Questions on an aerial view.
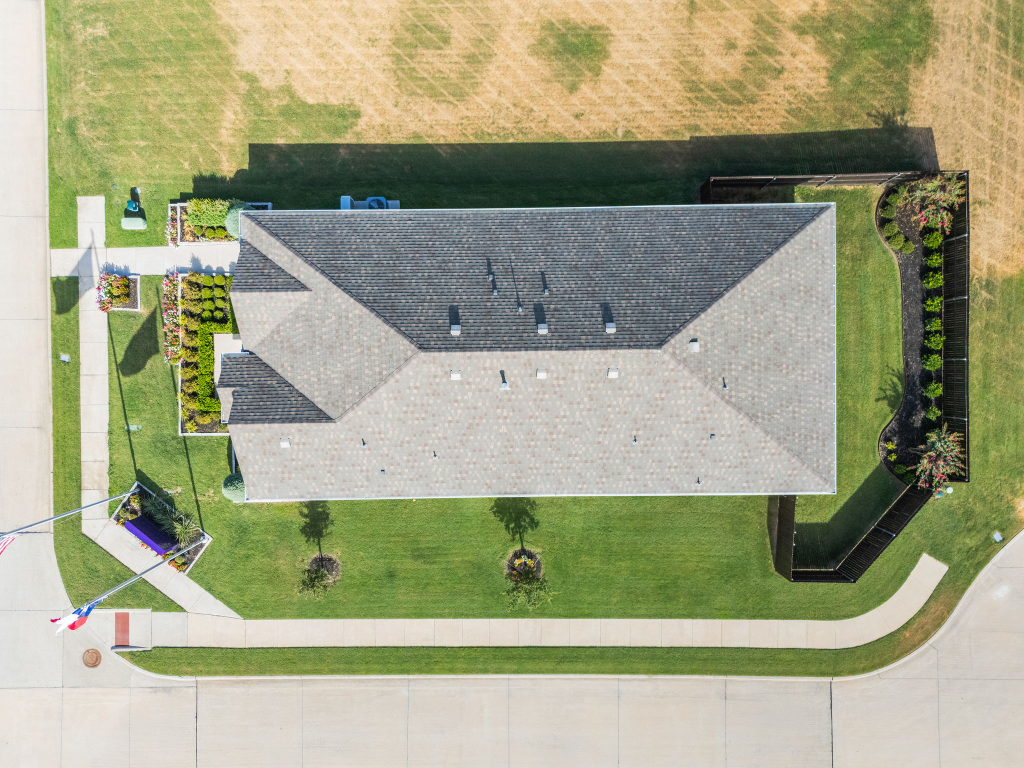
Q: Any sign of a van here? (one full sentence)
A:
No, I can't see a single van in this photo.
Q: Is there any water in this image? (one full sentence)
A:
No, no water is visible.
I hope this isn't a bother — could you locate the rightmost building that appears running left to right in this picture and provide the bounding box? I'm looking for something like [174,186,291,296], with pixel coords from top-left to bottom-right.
[215,203,835,501]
